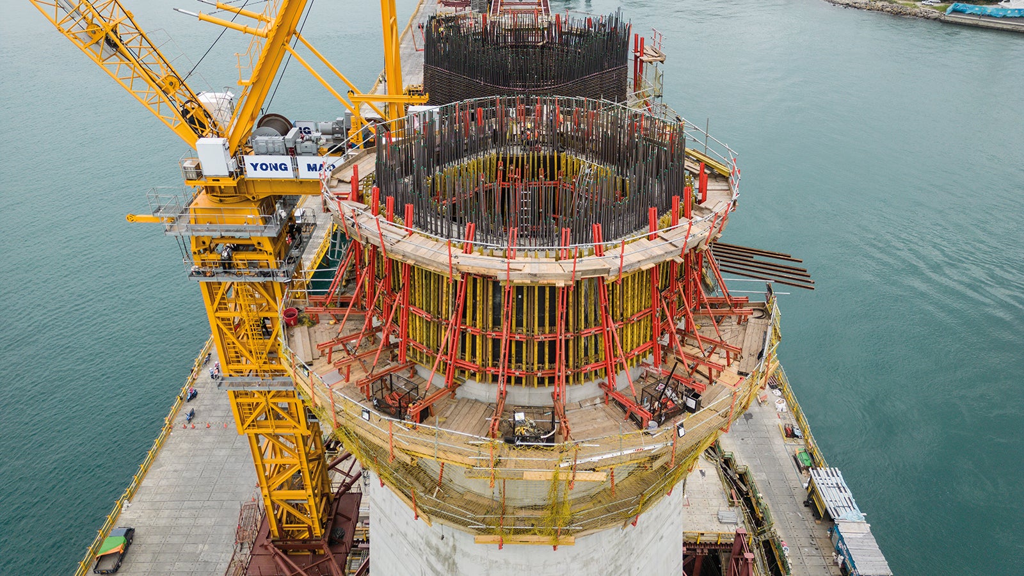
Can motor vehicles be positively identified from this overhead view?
Yes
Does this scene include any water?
Yes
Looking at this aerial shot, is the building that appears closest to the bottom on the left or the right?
right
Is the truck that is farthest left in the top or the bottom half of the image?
bottom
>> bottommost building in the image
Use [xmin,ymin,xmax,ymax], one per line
[822,522,905,576]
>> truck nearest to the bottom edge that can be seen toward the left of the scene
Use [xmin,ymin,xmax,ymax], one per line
[91,521,140,569]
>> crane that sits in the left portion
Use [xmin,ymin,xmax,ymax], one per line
[26,0,430,538]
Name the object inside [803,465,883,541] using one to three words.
shed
